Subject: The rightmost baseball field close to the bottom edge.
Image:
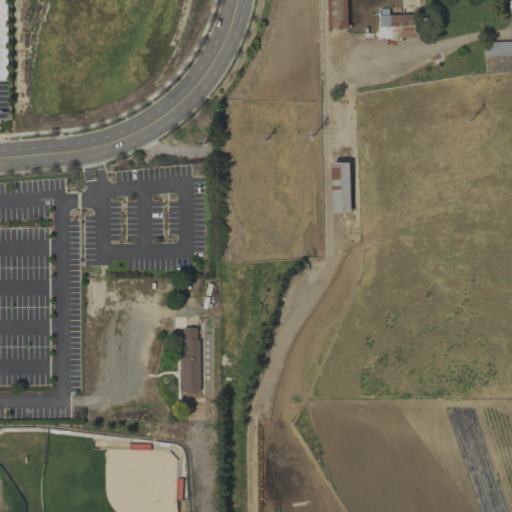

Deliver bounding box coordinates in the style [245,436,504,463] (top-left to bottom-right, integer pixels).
[44,432,186,512]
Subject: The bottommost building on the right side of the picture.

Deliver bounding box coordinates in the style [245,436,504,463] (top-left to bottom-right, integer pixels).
[332,162,352,213]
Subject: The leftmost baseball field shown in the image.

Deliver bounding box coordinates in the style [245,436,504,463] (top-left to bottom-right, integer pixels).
[0,432,46,512]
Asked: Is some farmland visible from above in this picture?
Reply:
Yes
